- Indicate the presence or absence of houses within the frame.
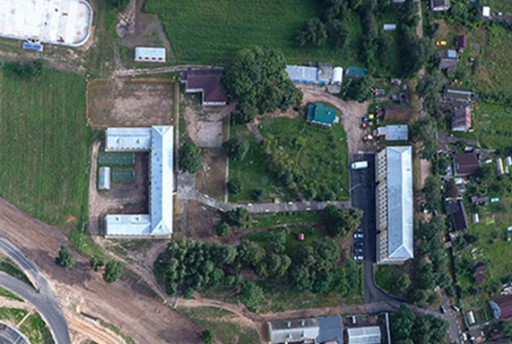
Yes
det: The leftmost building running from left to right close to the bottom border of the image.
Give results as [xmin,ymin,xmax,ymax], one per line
[265,318,320,343]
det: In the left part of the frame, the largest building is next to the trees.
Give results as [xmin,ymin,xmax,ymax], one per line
[106,126,179,241]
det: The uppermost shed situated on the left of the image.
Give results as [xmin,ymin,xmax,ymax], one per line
[135,46,165,62]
